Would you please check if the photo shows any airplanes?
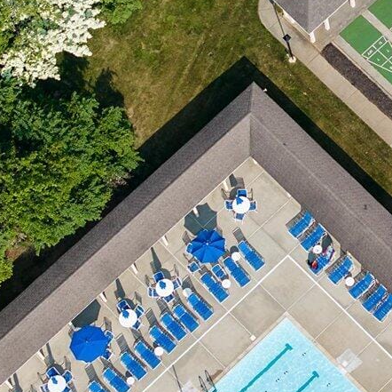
No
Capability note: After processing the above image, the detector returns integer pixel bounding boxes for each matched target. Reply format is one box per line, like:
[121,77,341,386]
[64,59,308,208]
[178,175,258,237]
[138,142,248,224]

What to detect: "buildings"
[273,0,356,46]
[0,83,392,390]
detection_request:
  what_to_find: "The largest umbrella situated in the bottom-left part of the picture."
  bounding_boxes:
[69,324,107,363]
